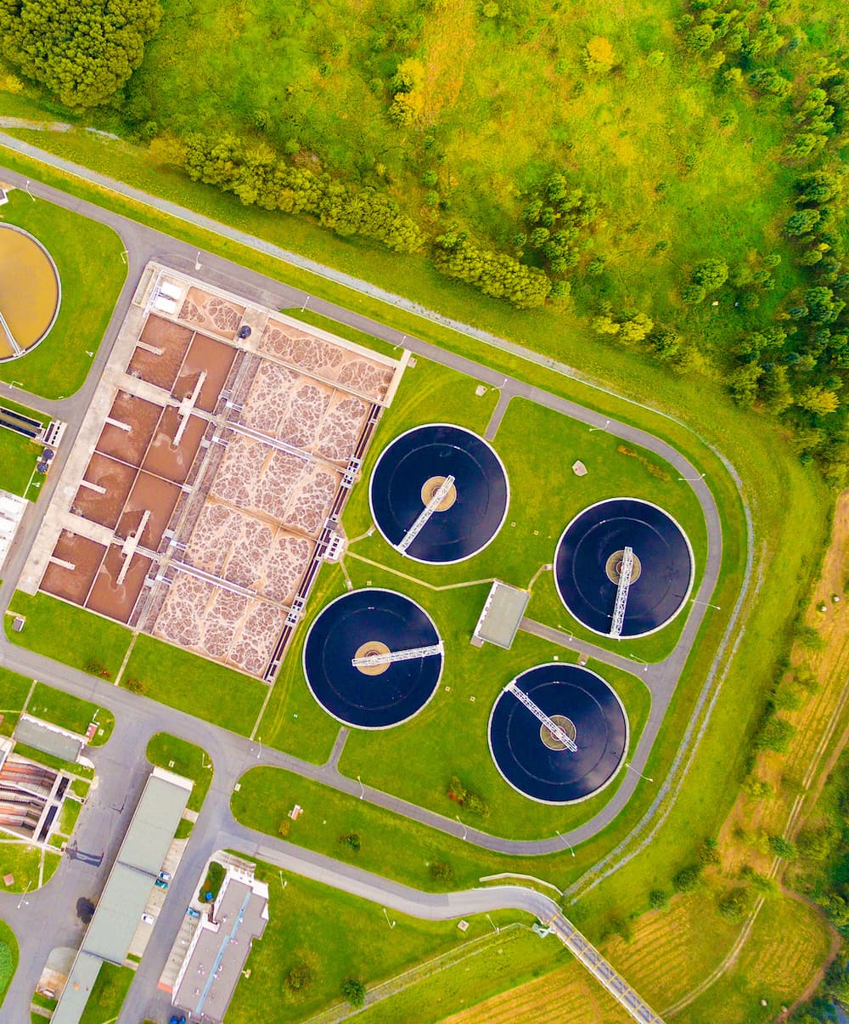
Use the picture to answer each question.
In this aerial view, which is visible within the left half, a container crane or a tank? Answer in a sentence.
Visible within the left half is a tank.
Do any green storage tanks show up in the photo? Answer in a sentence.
No, there appears to be no green storage tank in this shot.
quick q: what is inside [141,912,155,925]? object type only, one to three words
vehicle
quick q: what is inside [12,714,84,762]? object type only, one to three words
building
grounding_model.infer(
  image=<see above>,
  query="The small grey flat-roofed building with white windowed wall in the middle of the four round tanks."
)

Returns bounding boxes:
[471,581,531,650]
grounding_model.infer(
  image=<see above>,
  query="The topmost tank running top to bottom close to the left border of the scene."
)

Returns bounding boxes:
[0,221,62,362]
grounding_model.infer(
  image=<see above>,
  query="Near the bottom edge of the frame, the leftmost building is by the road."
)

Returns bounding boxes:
[49,766,191,1024]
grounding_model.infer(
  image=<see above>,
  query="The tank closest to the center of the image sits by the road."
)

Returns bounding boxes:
[368,423,511,565]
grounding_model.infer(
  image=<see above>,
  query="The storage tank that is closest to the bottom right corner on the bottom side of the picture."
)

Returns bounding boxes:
[487,662,630,805]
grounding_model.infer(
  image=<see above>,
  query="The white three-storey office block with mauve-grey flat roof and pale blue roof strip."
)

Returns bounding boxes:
[173,860,269,1024]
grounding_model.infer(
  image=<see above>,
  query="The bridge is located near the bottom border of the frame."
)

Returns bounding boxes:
[540,913,668,1024]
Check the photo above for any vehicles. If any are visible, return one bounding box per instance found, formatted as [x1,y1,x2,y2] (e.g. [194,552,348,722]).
[141,912,155,925]
[186,906,200,917]
[159,869,171,879]
[156,878,168,888]
[177,1013,187,1024]
[170,1013,179,1024]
